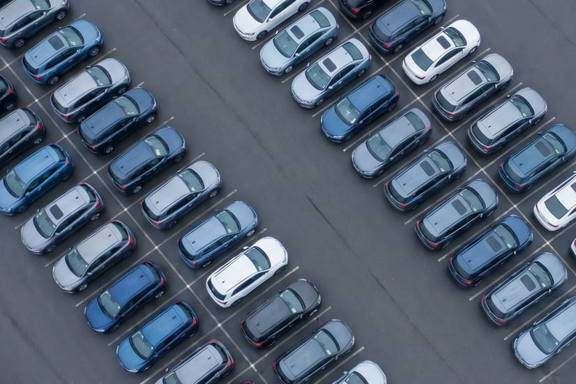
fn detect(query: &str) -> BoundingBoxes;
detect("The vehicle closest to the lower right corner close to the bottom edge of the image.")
[513,293,576,369]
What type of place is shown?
parking lot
